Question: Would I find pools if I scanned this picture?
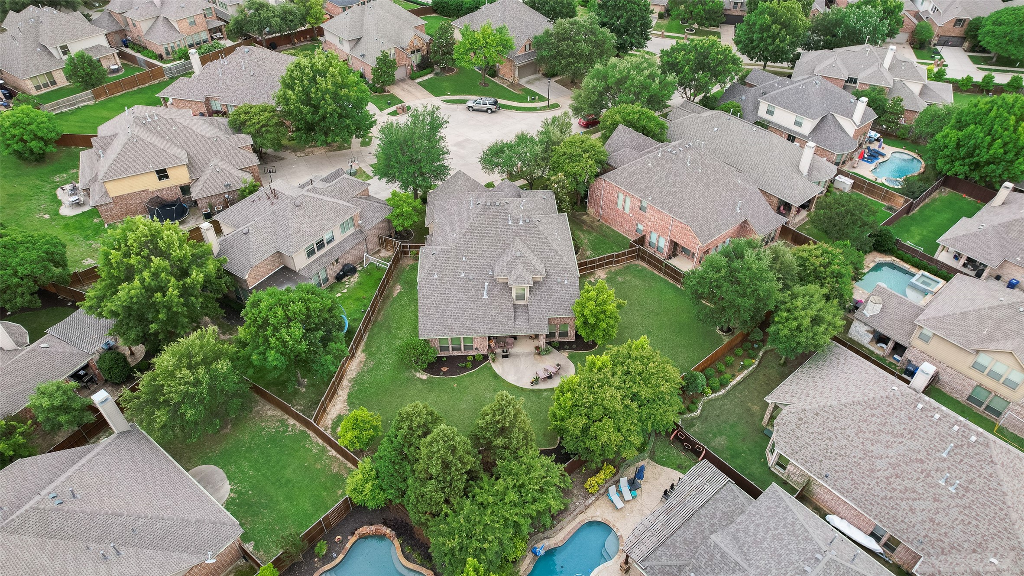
Yes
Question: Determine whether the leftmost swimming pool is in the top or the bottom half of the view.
bottom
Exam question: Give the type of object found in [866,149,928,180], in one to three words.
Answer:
swimming pool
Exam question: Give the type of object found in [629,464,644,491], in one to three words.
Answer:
umbrella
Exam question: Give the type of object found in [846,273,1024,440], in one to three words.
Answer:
house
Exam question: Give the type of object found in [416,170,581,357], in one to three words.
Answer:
house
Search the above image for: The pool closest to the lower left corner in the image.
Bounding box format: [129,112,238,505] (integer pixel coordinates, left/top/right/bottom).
[309,527,439,576]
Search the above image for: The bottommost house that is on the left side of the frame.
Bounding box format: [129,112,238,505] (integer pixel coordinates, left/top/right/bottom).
[0,386,247,576]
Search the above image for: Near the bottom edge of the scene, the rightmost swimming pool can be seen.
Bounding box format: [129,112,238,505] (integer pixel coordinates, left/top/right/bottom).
[524,512,628,576]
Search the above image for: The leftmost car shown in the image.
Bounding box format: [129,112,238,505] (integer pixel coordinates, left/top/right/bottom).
[464,94,503,113]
